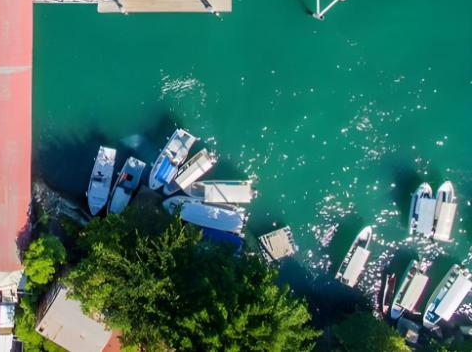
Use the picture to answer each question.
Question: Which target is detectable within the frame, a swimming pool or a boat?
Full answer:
The one in the frame is a boat.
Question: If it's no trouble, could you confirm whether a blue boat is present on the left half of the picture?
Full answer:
Yes, you'll find a blue boat on the left half of the picture.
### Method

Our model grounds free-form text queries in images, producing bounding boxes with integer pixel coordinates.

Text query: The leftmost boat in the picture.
[89,146,116,214]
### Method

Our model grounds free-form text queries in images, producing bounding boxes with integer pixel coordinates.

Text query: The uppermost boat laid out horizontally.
[187,178,255,201]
